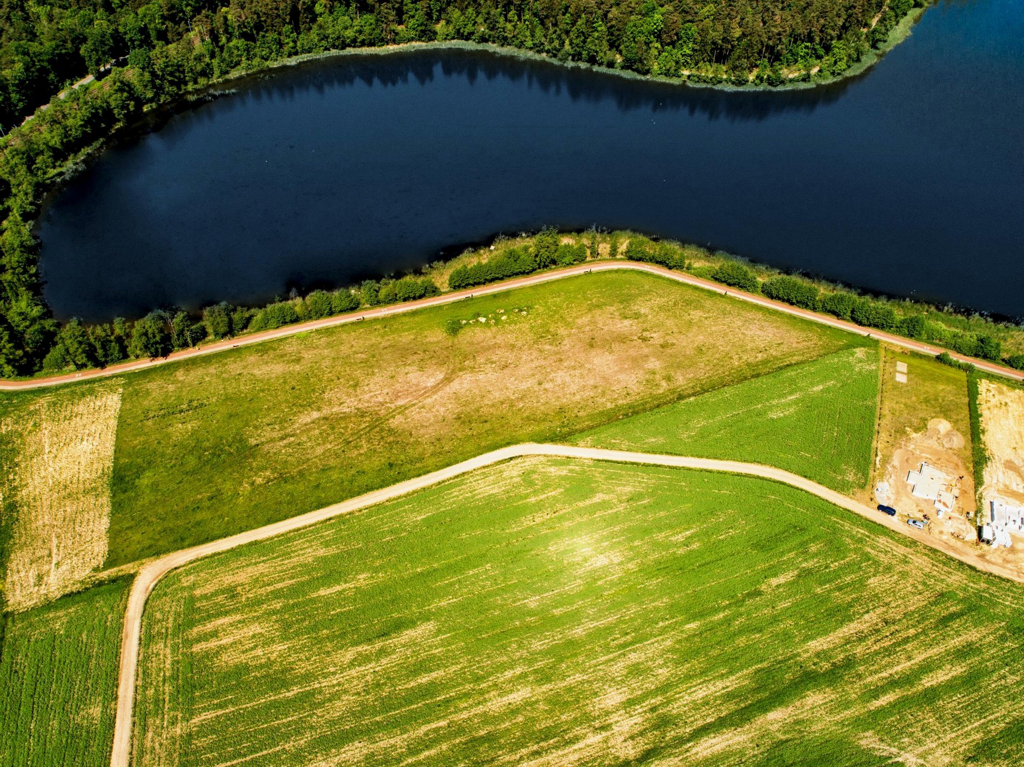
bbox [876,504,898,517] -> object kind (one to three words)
vehicle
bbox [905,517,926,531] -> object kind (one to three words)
car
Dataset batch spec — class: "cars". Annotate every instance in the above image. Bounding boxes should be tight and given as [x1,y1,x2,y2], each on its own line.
[876,504,898,517]
[905,517,926,531]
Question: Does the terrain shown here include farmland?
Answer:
Yes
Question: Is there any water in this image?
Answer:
Yes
